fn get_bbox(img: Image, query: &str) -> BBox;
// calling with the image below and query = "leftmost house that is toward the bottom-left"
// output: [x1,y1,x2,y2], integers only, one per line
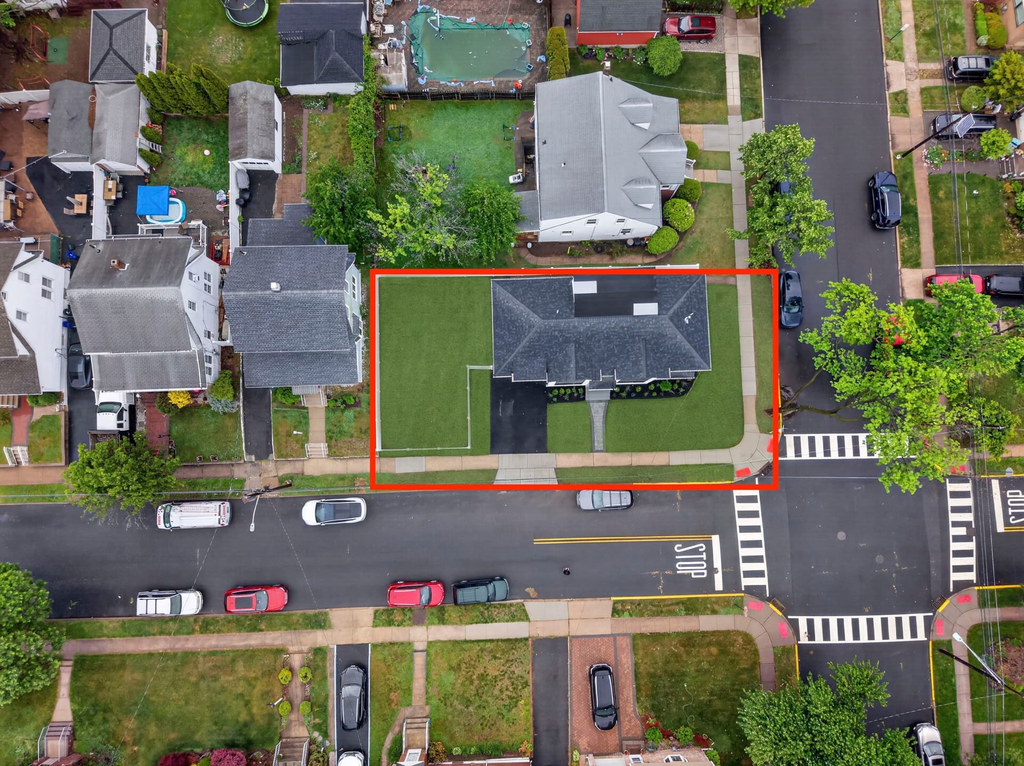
[38,720,83,766]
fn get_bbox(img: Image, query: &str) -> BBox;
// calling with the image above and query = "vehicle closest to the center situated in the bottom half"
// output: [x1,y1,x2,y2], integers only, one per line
[574,486,635,515]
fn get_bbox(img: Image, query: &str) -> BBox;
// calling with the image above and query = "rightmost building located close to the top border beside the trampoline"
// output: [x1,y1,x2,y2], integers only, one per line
[277,1,367,98]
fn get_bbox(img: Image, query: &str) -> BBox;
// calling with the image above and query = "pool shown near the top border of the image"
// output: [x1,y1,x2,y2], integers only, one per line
[408,8,531,82]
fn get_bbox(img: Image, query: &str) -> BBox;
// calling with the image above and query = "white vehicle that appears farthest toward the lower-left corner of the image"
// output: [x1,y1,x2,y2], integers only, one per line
[133,587,206,619]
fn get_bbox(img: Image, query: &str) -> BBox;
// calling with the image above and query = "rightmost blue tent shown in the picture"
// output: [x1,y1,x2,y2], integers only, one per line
[137,185,183,223]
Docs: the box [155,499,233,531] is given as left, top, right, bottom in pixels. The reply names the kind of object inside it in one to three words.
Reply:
vehicle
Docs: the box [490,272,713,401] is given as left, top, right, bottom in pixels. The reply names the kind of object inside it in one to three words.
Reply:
house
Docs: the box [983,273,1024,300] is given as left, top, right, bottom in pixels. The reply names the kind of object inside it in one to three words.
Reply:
car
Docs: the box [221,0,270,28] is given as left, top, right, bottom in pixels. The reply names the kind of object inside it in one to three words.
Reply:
trampoline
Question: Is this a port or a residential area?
residential area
